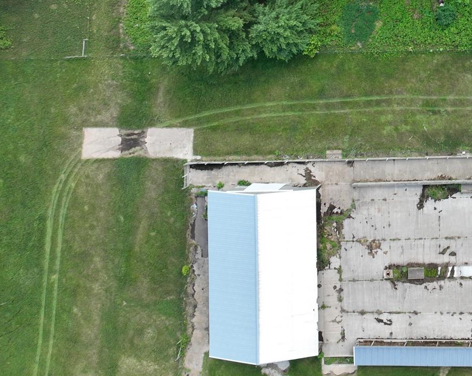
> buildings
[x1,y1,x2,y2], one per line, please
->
[352,339,472,369]
[207,180,324,366]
